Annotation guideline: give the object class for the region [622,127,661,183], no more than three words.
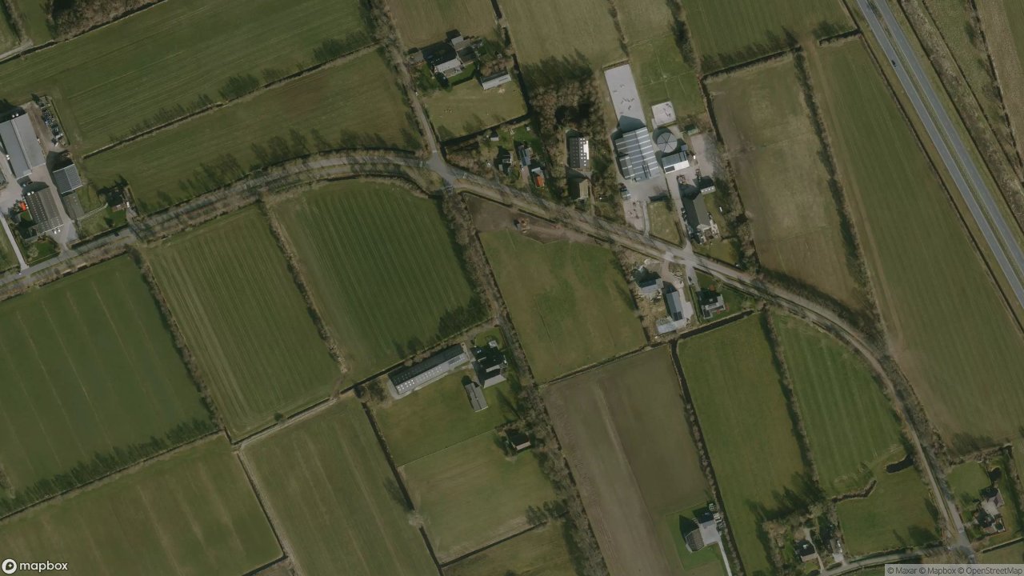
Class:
building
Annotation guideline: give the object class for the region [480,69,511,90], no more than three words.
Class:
barn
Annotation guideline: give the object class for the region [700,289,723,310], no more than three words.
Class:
house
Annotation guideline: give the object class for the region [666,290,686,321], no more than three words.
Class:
barn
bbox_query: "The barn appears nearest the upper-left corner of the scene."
[0,113,46,175]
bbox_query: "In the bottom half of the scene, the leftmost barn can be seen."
[392,346,468,393]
